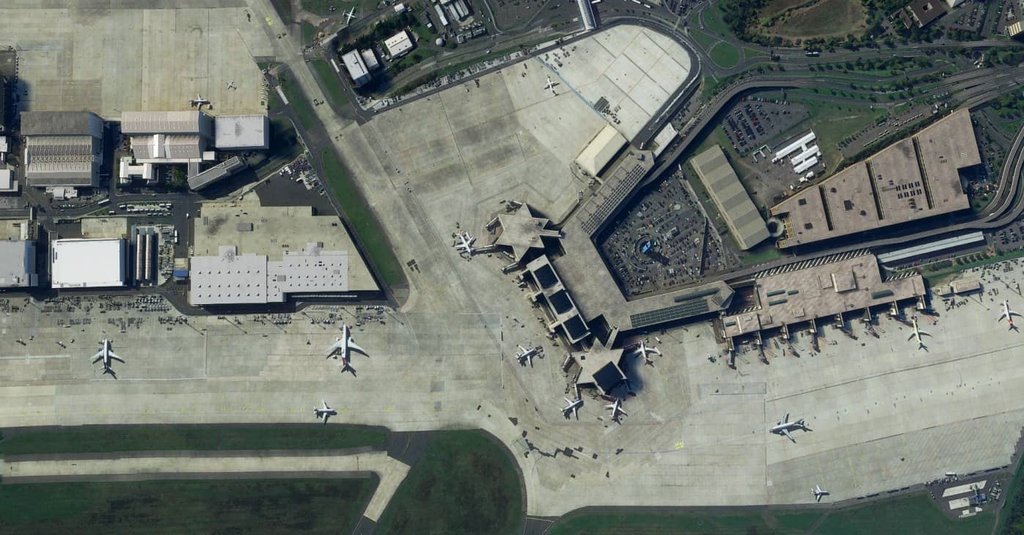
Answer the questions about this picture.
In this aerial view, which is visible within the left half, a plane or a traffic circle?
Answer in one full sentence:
Looking within the left half, you will find a plane.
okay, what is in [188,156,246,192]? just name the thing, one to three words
building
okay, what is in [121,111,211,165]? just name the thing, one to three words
hangar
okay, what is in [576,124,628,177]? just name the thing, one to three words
hangar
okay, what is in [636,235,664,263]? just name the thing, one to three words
building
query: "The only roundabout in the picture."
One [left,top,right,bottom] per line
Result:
[702,34,745,77]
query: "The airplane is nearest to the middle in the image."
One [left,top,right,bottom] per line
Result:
[452,231,473,254]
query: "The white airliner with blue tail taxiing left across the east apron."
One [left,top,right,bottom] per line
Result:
[769,409,806,441]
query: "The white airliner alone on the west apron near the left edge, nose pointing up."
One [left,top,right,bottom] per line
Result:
[89,338,122,369]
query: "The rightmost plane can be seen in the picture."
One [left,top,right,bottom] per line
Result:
[998,300,1023,327]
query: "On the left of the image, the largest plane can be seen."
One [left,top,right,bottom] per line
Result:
[323,325,365,368]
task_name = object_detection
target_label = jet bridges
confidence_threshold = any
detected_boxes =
[806,319,821,354]
[725,337,737,371]
[622,342,641,352]
[625,378,637,397]
[507,199,523,205]
[834,312,858,342]
[469,243,497,253]
[500,249,513,259]
[861,307,881,339]
[914,296,942,317]
[484,216,500,230]
[779,325,800,359]
[753,330,770,365]
[888,301,916,328]
[561,353,572,373]
[500,261,519,273]
[602,393,616,403]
